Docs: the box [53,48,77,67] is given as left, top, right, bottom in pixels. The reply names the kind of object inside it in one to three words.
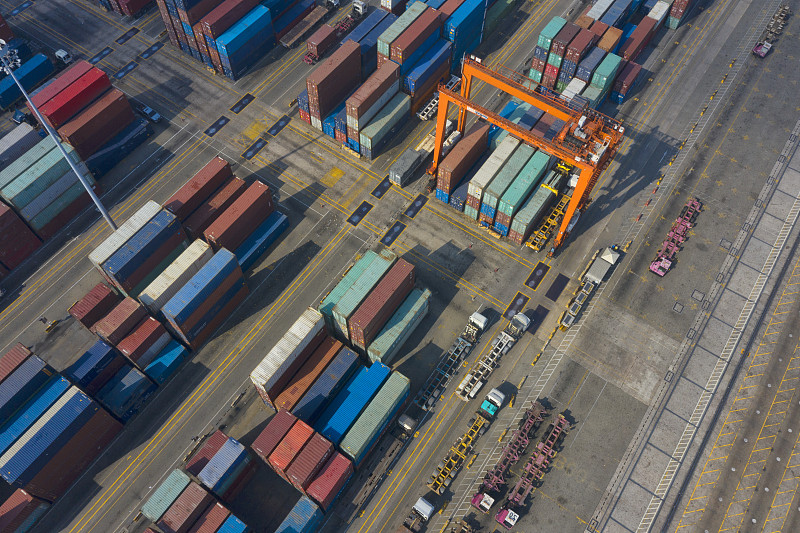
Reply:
vehicle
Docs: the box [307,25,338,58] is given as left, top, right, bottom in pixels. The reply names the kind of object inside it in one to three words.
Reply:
shipping container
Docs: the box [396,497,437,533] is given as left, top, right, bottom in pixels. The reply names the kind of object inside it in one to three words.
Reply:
truck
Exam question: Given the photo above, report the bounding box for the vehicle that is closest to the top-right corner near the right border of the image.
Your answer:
[749,2,795,63]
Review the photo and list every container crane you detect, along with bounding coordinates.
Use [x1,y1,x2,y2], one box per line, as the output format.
[423,45,638,259]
